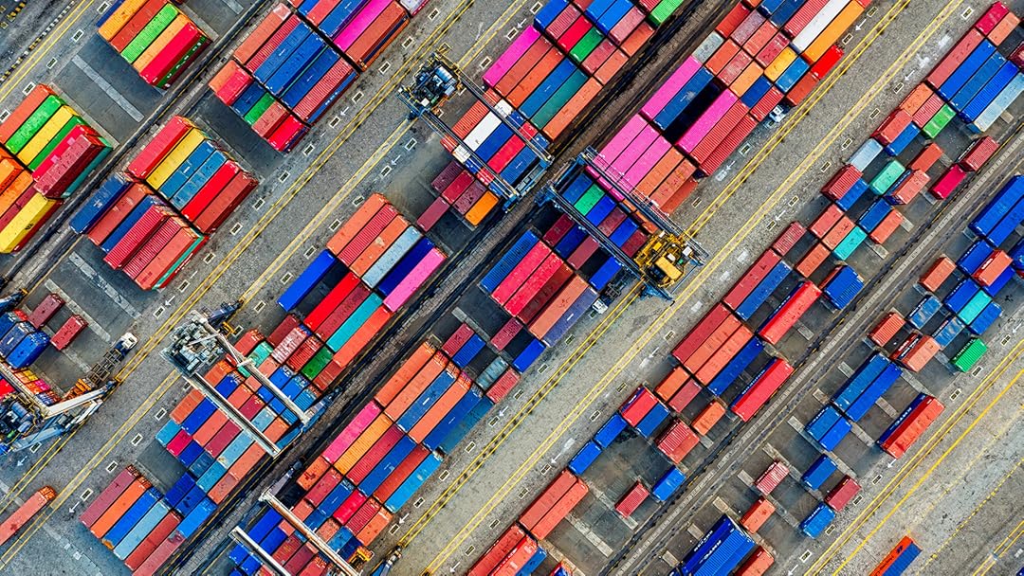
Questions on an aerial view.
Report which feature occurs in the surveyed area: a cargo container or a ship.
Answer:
cargo container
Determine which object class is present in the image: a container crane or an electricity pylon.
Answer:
container crane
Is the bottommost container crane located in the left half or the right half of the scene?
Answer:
left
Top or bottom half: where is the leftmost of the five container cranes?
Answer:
bottom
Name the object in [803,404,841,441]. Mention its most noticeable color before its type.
blue shipping container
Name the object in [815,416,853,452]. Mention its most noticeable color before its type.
blue shipping container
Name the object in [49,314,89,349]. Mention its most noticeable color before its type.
red shipping container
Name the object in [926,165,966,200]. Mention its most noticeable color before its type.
red shipping container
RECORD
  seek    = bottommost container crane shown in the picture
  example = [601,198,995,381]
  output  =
[222,450,406,576]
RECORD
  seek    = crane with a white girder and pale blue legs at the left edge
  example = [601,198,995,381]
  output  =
[0,355,118,460]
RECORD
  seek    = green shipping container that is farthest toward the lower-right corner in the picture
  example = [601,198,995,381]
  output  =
[950,337,990,374]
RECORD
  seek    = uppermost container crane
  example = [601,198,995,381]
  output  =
[392,39,566,213]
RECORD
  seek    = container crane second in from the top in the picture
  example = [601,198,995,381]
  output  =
[535,132,713,300]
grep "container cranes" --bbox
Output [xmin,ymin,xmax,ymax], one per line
[535,132,713,300]
[222,450,406,576]
[0,355,118,460]
[392,39,566,213]
[150,294,345,468]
